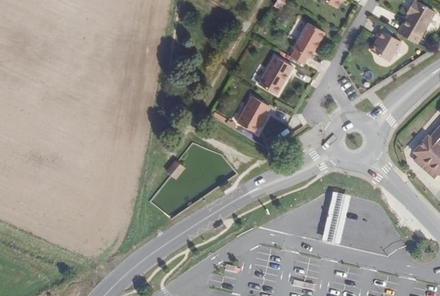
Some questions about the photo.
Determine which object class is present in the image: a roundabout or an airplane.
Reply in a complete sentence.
Looking from above, you can make out a roundabout.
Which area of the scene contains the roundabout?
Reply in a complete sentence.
The roundabout appears toward the right of the photo.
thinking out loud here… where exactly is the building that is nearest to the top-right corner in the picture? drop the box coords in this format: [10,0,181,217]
[398,2,437,44]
